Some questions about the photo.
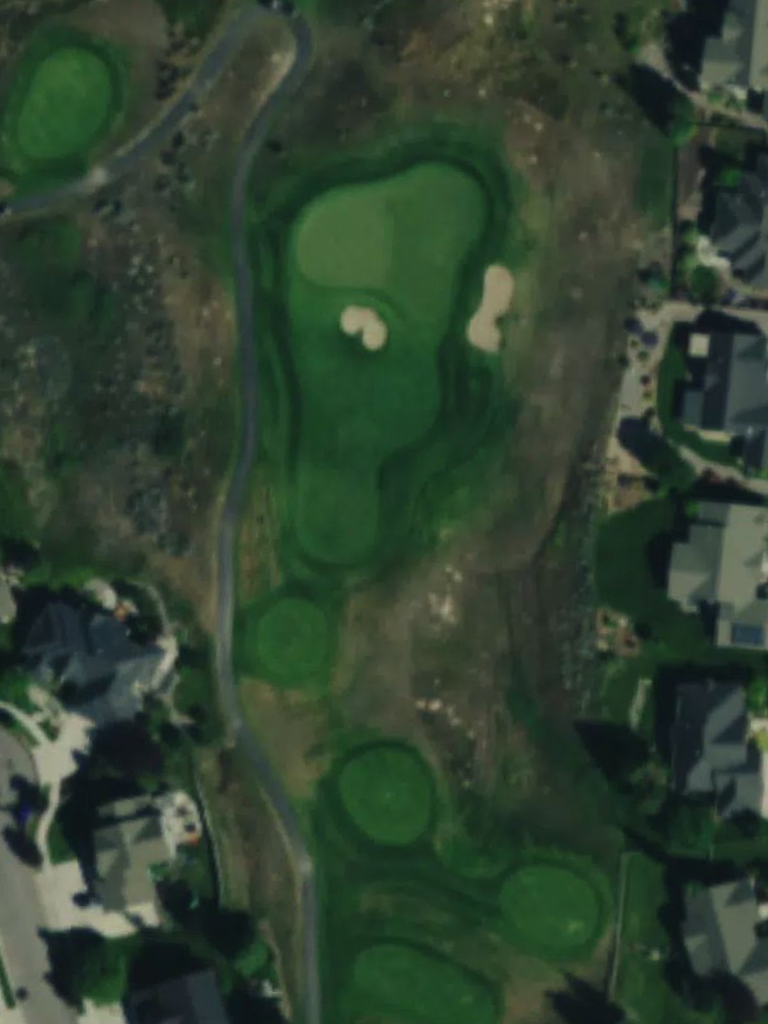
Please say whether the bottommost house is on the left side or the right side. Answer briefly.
left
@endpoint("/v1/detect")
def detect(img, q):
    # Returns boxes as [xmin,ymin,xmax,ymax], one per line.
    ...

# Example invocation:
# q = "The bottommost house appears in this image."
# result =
[127,967,232,1024]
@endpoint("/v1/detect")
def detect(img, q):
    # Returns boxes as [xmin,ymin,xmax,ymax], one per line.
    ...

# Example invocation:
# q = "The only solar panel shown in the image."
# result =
[732,625,767,645]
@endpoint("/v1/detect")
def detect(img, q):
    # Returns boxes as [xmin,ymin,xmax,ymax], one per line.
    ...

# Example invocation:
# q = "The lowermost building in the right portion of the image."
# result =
[679,877,768,1015]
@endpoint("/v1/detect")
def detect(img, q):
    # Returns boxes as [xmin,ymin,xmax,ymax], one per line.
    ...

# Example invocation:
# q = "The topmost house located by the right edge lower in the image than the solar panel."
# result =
[675,681,766,820]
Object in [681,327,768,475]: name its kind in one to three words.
house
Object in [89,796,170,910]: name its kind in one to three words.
house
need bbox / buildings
[701,0,768,118]
[89,796,170,910]
[675,681,766,820]
[717,142,768,287]
[681,327,768,475]
[127,967,232,1024]
[0,560,18,624]
[21,597,167,735]
[679,877,768,1015]
[666,497,768,649]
